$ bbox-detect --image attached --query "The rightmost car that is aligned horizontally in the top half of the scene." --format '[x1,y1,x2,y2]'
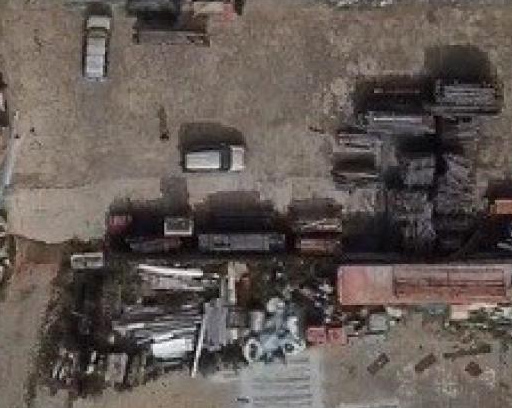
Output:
[183,146,248,174]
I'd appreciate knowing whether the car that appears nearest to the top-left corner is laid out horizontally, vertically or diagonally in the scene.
vertically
